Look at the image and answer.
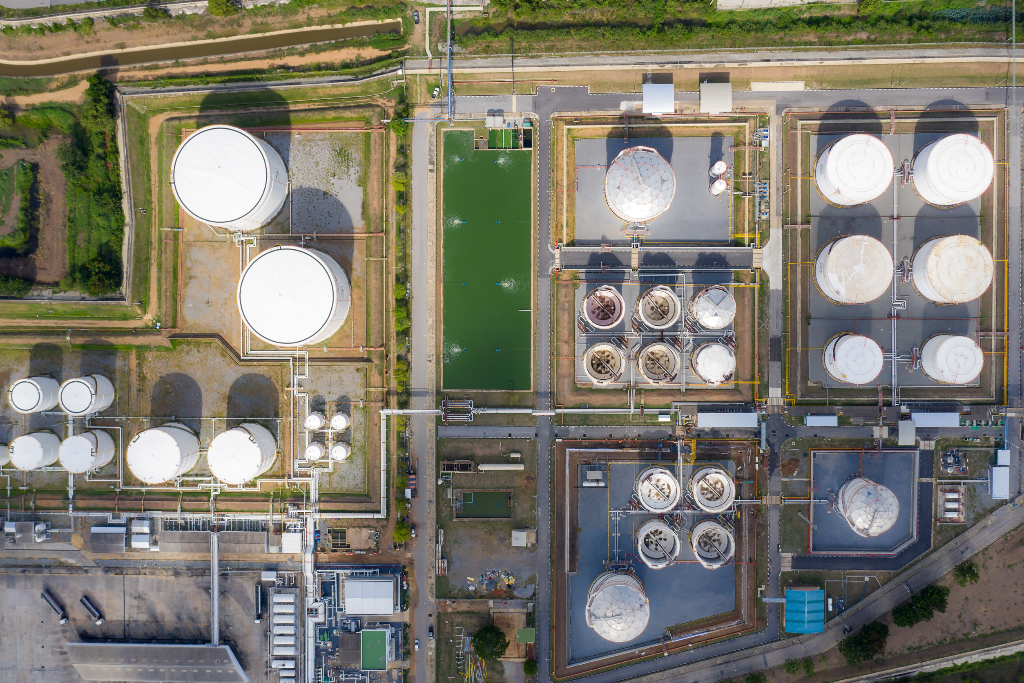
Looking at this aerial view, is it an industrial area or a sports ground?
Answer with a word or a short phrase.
industrial area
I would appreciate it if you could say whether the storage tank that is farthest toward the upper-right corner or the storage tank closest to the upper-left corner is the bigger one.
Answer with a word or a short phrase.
the storage tank closest to the upper-left corner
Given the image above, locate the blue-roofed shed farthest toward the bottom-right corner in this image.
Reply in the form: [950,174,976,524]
[782,586,824,634]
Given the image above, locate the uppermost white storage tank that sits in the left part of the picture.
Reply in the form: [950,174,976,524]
[169,122,291,235]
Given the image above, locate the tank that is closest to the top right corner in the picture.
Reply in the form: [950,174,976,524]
[910,134,997,210]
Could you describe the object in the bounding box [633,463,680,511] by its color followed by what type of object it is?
white storage tank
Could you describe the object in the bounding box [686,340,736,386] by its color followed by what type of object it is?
white storage tank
